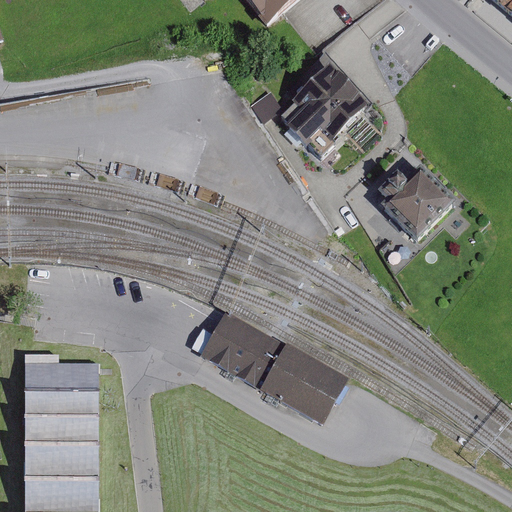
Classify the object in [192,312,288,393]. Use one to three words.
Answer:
building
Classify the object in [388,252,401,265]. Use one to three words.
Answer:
umbrella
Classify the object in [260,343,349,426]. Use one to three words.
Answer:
shed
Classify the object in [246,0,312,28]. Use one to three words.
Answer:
house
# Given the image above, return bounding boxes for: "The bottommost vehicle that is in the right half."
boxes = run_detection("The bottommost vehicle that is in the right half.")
[339,206,359,230]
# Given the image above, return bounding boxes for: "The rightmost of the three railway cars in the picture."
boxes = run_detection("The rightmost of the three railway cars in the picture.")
[187,186,225,208]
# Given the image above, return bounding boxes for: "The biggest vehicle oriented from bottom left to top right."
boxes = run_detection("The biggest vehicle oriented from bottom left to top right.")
[383,26,406,46]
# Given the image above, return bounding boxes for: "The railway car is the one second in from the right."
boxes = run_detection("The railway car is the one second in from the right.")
[147,174,186,193]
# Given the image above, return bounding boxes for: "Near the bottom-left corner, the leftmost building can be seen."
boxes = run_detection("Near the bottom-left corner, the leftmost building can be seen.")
[23,354,103,512]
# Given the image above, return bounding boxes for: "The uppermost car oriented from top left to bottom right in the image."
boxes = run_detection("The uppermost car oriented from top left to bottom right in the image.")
[334,5,353,26]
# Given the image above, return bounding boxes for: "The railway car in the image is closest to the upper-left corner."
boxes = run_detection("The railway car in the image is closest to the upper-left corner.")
[106,164,146,182]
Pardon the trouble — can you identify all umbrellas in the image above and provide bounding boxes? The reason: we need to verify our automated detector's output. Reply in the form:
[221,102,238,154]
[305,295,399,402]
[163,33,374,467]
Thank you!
[398,246,411,259]
[388,252,401,265]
